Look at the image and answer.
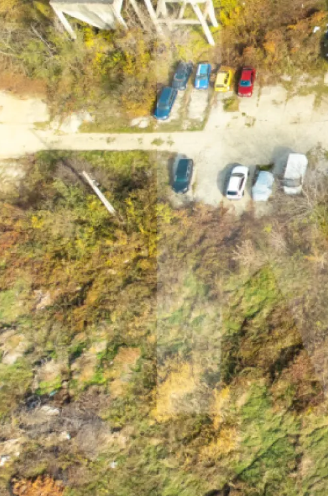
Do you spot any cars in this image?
Yes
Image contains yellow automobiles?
Yes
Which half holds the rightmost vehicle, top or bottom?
top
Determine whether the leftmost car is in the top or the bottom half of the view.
top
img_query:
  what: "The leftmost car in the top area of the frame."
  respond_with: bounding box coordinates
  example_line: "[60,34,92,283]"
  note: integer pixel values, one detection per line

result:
[153,85,180,121]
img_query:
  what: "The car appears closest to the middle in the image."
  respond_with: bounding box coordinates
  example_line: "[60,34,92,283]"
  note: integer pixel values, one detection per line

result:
[170,156,193,194]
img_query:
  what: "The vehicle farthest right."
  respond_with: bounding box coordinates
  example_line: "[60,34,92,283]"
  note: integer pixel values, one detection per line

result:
[280,147,307,198]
